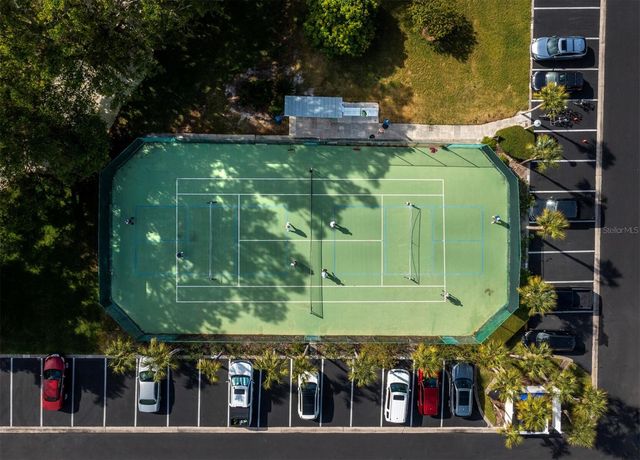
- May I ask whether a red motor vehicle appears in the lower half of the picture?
Yes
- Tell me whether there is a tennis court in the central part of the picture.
Yes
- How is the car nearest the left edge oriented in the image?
up and down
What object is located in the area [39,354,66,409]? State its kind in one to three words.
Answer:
car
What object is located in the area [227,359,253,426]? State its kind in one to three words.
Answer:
truck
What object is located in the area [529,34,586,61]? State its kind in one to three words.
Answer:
car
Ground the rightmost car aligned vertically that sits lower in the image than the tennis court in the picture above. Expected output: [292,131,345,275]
[450,362,476,418]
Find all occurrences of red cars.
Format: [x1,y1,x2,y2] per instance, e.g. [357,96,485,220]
[39,354,66,409]
[417,366,441,416]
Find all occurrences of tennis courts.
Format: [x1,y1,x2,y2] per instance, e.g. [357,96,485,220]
[112,146,508,335]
